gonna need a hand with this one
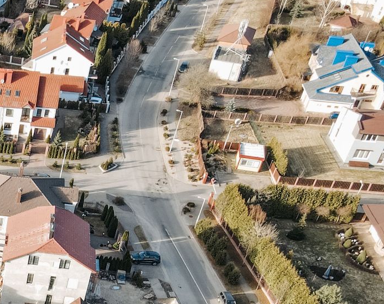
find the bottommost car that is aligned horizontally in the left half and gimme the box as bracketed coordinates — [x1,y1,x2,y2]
[131,249,163,265]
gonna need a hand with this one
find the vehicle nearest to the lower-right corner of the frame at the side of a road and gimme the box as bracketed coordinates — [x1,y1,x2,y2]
[216,287,241,304]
